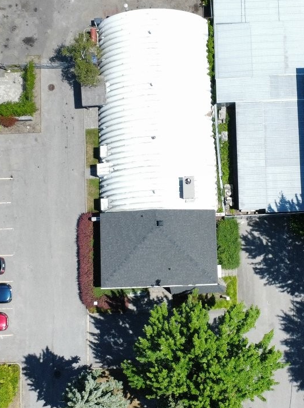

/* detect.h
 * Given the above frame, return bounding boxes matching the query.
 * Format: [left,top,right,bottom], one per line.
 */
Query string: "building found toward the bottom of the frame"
[92,209,226,295]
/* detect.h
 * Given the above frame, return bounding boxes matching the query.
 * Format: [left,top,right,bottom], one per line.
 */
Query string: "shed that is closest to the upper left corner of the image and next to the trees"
[82,3,219,212]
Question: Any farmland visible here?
No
